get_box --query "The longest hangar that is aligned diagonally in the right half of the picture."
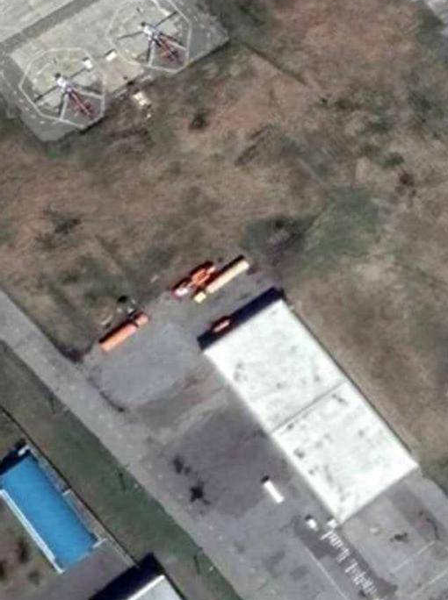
[203,298,417,523]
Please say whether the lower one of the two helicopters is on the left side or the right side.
left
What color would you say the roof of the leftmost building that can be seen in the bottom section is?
blue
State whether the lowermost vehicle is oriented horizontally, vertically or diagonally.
diagonally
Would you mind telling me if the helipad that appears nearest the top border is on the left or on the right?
left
